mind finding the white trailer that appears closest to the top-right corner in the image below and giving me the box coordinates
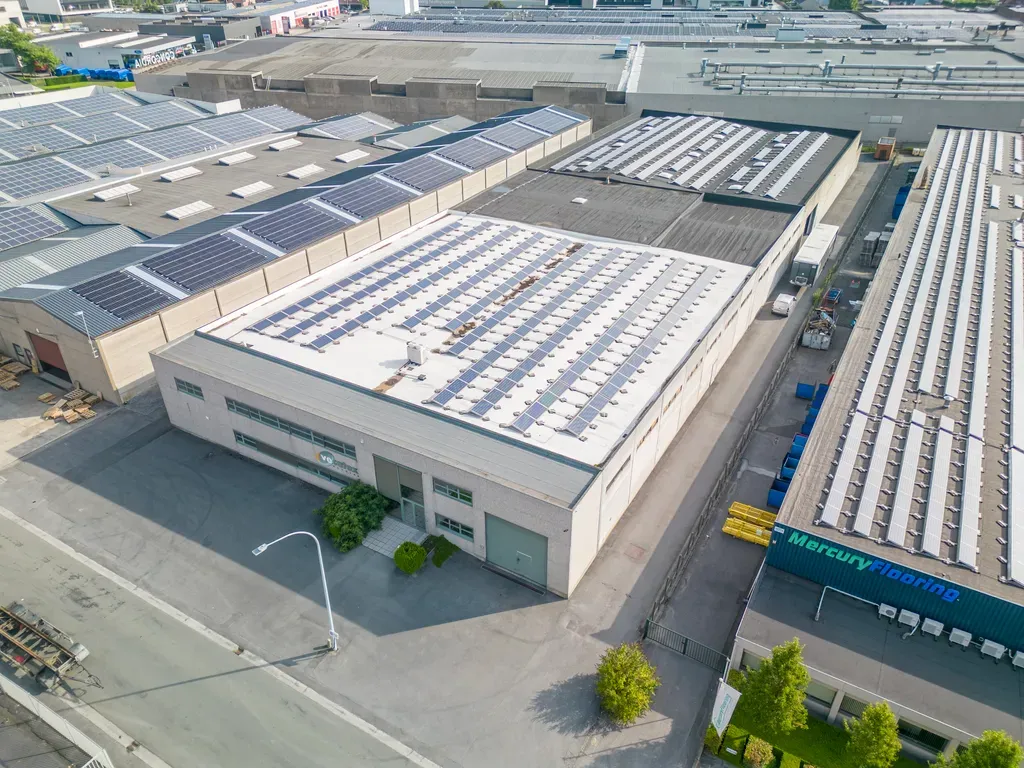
[787,223,839,294]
